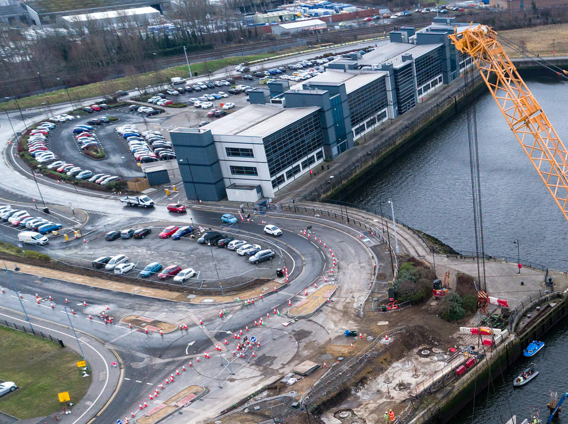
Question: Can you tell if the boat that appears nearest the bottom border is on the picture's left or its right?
right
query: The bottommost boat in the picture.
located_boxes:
[512,361,540,384]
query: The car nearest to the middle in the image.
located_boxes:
[263,223,282,236]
